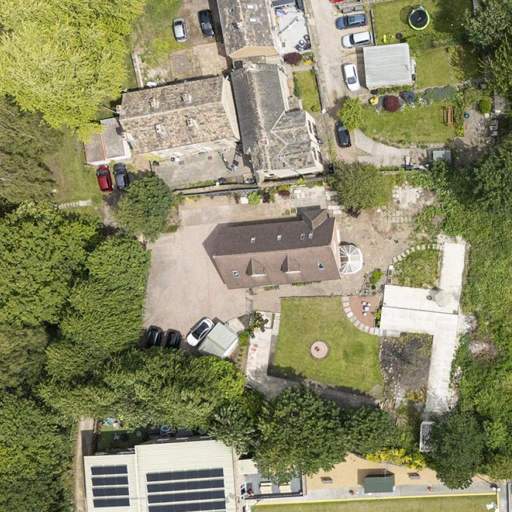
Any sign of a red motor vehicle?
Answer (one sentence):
Yes, a red motor vehicle is visible in the scene.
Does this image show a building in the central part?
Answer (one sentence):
Yes, a building appears in the central part.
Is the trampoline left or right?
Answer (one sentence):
The trampoline sits on the right side.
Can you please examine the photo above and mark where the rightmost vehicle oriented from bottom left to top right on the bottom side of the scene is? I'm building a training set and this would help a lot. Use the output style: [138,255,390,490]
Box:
[188,317,214,346]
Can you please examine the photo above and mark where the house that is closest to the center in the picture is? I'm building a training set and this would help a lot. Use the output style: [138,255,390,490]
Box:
[213,207,343,290]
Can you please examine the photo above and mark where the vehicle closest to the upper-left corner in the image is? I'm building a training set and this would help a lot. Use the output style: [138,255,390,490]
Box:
[172,17,189,44]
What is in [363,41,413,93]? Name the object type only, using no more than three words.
building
